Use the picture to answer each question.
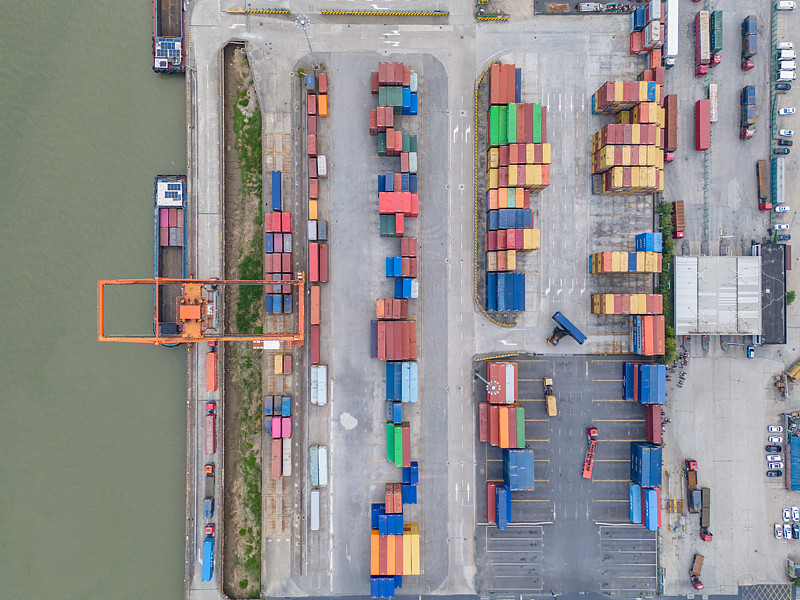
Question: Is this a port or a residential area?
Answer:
port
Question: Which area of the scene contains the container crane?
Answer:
left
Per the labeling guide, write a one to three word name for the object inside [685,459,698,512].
vehicle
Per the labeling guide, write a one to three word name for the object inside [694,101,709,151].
trailer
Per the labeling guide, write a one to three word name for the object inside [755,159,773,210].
vehicle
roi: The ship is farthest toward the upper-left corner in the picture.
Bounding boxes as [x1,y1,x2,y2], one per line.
[151,0,186,74]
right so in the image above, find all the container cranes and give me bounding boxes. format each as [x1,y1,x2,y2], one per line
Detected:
[97,262,305,352]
